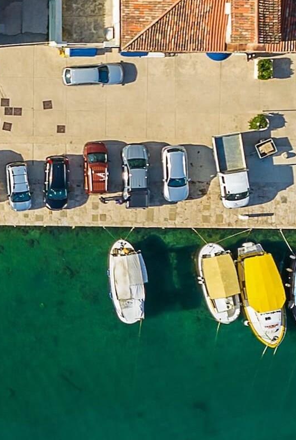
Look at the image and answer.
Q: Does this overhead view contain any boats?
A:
Yes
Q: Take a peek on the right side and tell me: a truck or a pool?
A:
truck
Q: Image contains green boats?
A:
No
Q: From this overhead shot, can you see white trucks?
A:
Yes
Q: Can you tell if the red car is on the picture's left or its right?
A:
left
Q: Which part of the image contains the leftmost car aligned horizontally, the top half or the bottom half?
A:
top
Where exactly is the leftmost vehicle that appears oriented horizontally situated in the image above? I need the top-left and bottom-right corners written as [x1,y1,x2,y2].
[62,61,122,88]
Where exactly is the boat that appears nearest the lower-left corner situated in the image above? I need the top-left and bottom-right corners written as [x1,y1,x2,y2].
[104,239,147,324]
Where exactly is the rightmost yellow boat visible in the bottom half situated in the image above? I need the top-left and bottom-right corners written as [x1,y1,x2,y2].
[232,240,289,349]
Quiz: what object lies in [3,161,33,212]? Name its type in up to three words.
car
